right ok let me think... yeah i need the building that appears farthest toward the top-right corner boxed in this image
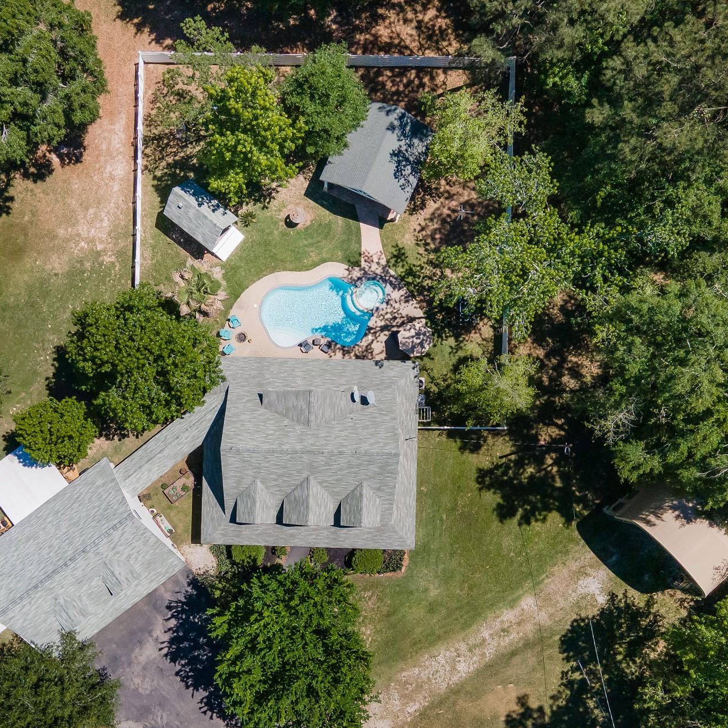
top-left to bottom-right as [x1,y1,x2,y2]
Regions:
[317,96,434,218]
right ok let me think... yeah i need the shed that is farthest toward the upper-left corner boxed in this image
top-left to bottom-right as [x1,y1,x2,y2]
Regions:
[163,180,248,265]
